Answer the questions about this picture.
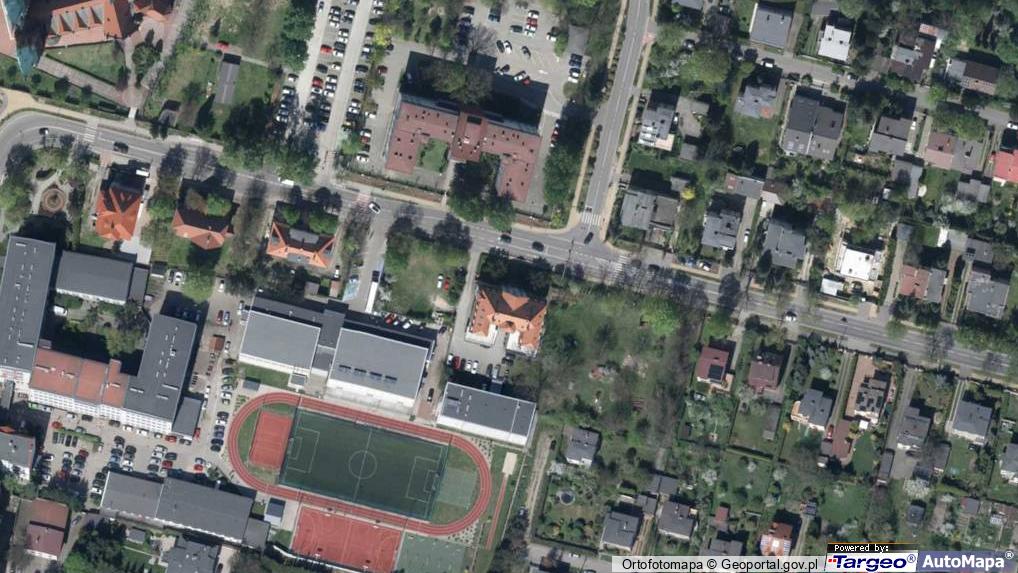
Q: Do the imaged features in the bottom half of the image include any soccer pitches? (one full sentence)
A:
Yes, in the bottom half of the image there is a soccer pitch.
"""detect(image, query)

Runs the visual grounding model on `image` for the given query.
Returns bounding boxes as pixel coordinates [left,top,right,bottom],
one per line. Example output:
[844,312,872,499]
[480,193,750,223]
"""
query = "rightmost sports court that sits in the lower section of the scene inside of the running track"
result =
[437,468,478,508]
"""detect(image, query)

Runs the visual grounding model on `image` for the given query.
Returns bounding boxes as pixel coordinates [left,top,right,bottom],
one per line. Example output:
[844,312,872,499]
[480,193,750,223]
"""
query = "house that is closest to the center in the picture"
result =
[465,292,547,359]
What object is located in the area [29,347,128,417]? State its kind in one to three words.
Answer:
building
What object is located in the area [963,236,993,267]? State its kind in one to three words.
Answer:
house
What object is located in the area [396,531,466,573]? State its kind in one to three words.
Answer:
sports court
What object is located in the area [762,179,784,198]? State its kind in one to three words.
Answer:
shed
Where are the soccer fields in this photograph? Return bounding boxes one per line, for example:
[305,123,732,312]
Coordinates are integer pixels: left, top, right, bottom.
[279,407,448,521]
